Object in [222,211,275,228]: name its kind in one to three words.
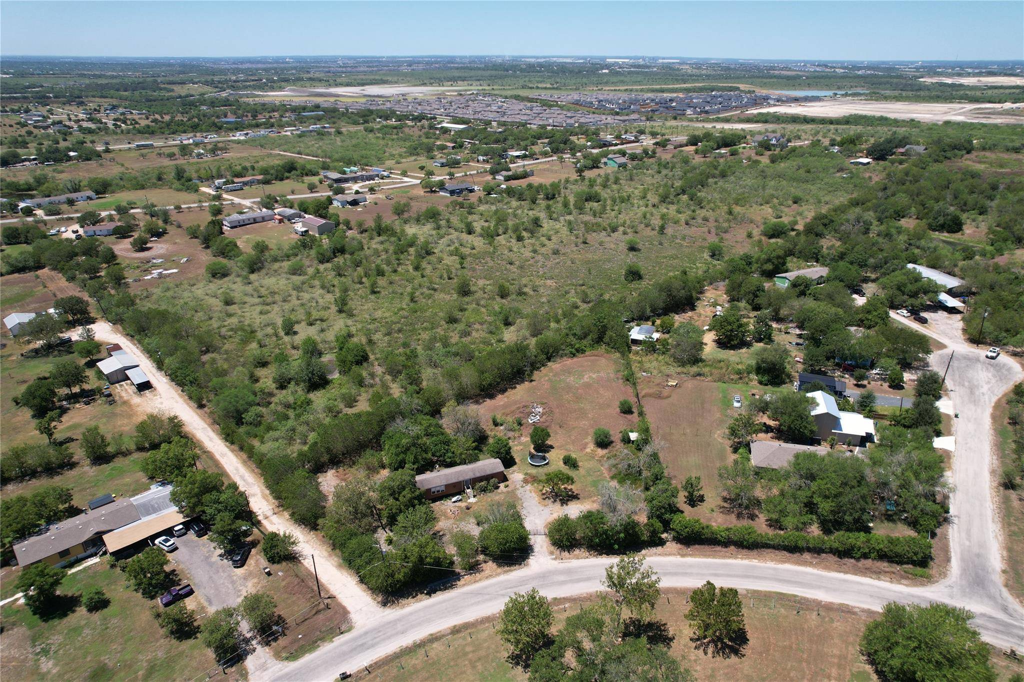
house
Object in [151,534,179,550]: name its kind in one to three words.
car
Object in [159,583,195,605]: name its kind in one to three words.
truck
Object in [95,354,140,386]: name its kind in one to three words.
barn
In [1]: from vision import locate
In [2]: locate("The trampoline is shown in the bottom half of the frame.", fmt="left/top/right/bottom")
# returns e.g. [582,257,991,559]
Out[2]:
[528,451,549,468]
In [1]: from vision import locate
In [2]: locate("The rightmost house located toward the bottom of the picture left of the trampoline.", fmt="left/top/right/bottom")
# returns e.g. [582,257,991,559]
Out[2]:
[414,459,504,501]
